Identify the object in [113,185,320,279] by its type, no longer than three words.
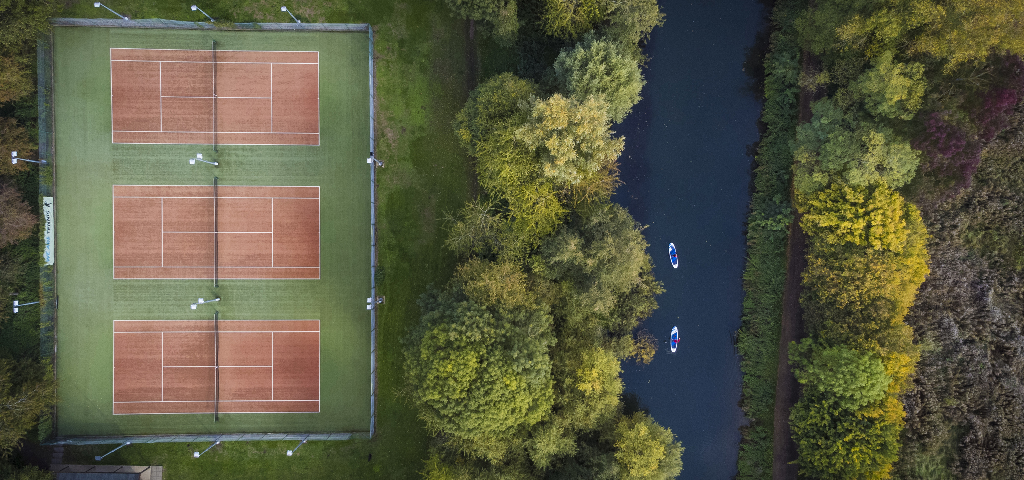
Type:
tennis court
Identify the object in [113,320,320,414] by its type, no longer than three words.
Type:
tennis court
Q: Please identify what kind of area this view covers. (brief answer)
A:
sports ground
